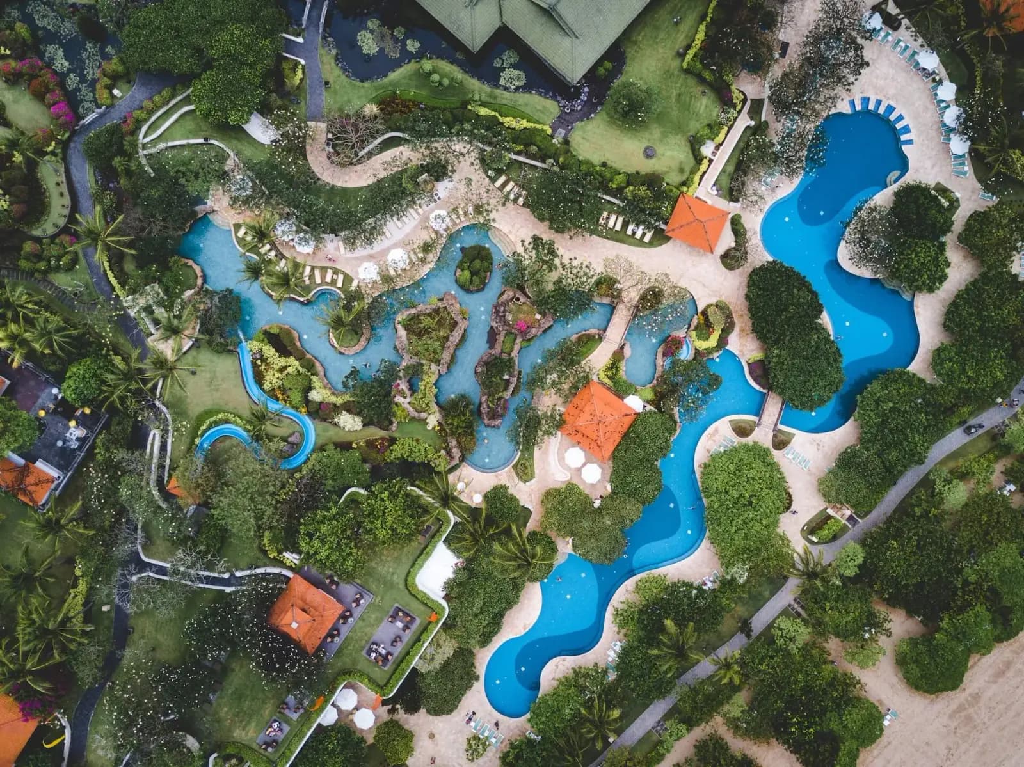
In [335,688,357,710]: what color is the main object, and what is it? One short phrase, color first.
white umbrella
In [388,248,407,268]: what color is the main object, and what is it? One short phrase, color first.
white umbrella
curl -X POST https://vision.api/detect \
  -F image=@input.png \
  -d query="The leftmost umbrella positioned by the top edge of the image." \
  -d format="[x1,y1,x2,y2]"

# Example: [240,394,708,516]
[864,10,883,30]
